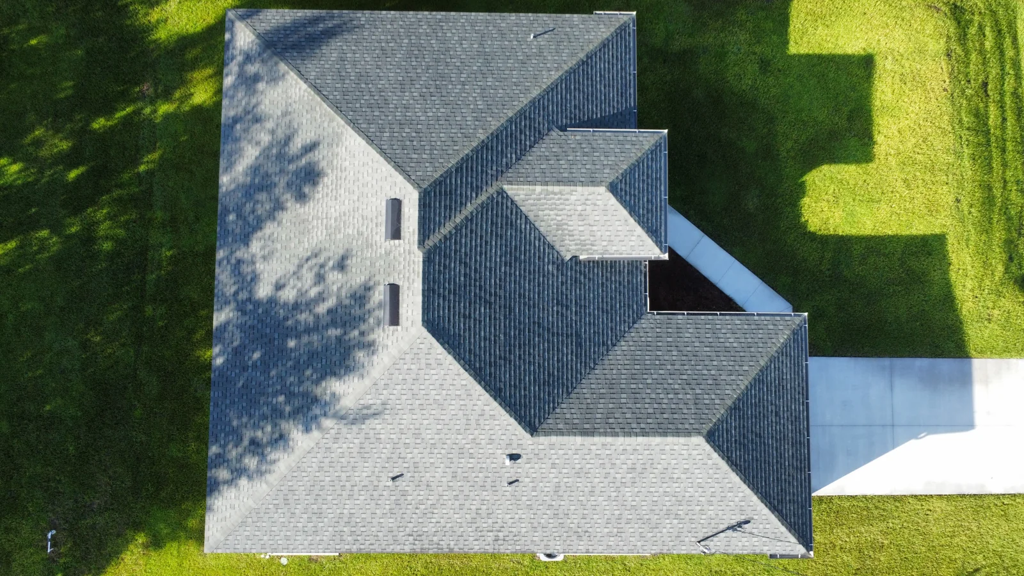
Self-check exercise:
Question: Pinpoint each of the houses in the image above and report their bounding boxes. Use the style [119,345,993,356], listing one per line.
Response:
[202,7,816,559]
